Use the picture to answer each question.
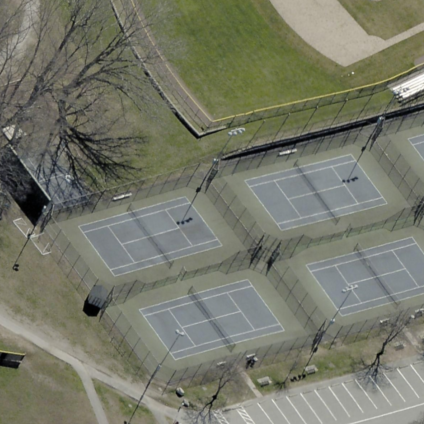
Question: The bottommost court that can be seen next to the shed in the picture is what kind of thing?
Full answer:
The bottommost court that can be seen next to the shed appears to be a tennis court.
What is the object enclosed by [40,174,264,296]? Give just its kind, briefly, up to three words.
tennis court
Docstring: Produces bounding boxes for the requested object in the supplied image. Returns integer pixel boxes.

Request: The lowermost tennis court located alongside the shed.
[107,255,323,384]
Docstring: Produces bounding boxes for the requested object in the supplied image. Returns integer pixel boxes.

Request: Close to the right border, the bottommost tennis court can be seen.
[265,212,424,337]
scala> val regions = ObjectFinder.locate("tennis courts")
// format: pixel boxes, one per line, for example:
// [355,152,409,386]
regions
[107,255,323,384]
[265,212,424,337]
[370,117,424,205]
[206,131,424,254]
[40,174,264,296]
